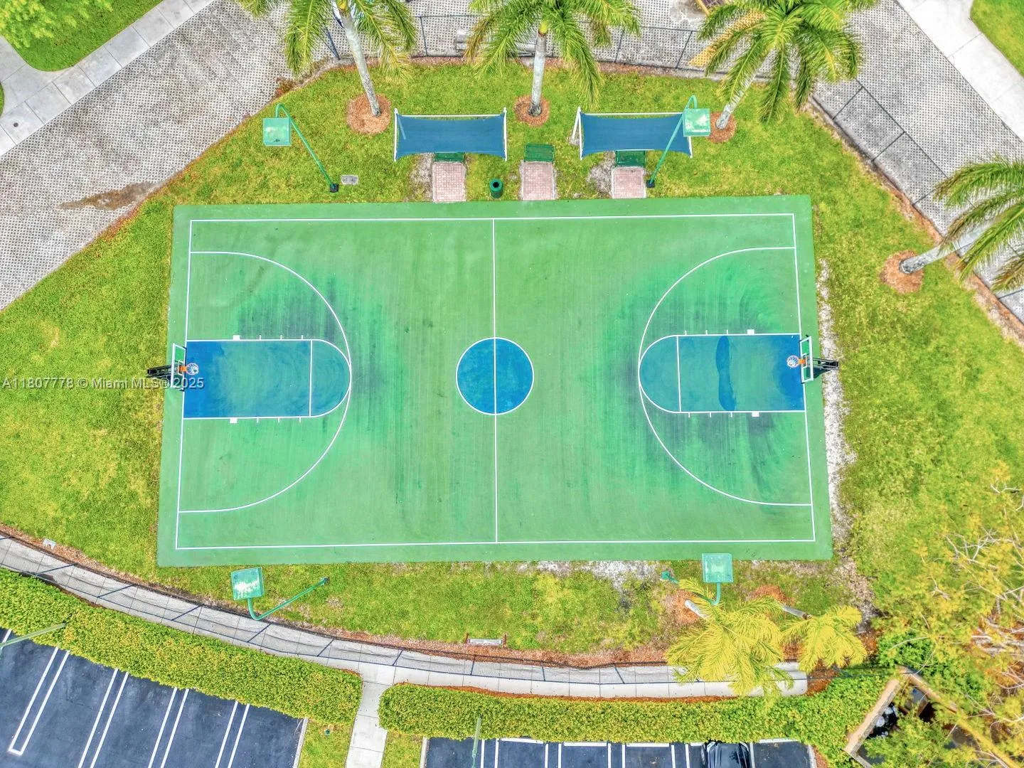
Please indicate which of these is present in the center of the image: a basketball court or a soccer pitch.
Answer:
basketball court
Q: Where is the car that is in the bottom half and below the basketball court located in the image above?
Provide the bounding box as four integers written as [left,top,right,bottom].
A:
[706,740,754,768]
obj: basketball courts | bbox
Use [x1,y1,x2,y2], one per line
[157,196,832,567]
